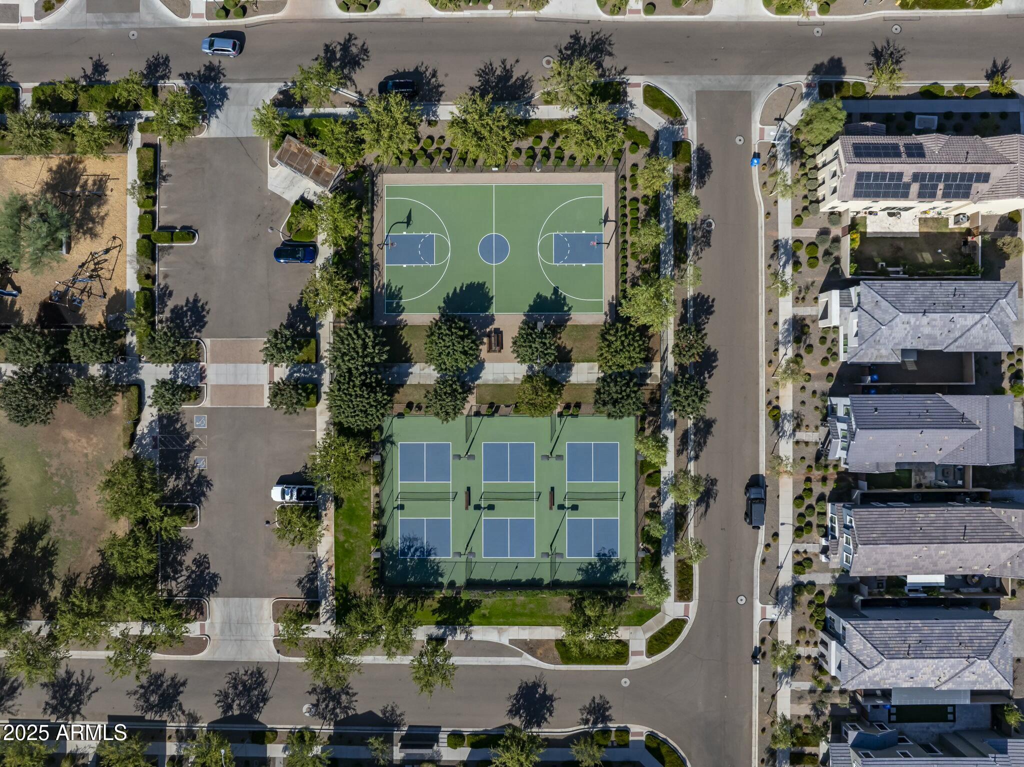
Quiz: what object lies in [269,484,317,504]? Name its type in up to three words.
vehicle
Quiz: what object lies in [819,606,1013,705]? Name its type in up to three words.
house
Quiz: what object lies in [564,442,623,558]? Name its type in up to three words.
sports court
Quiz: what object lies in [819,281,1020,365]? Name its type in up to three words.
house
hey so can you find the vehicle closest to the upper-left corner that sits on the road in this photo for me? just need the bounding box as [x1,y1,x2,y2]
[199,32,241,56]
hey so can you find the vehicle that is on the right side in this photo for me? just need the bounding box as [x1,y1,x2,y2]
[743,478,765,522]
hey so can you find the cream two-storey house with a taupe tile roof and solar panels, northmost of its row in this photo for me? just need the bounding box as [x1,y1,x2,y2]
[818,111,1024,212]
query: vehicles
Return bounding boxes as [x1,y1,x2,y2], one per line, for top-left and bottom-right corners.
[377,77,420,99]
[743,478,765,522]
[269,484,317,504]
[199,32,241,56]
[274,245,315,265]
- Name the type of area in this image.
residential area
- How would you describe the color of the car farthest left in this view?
blue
